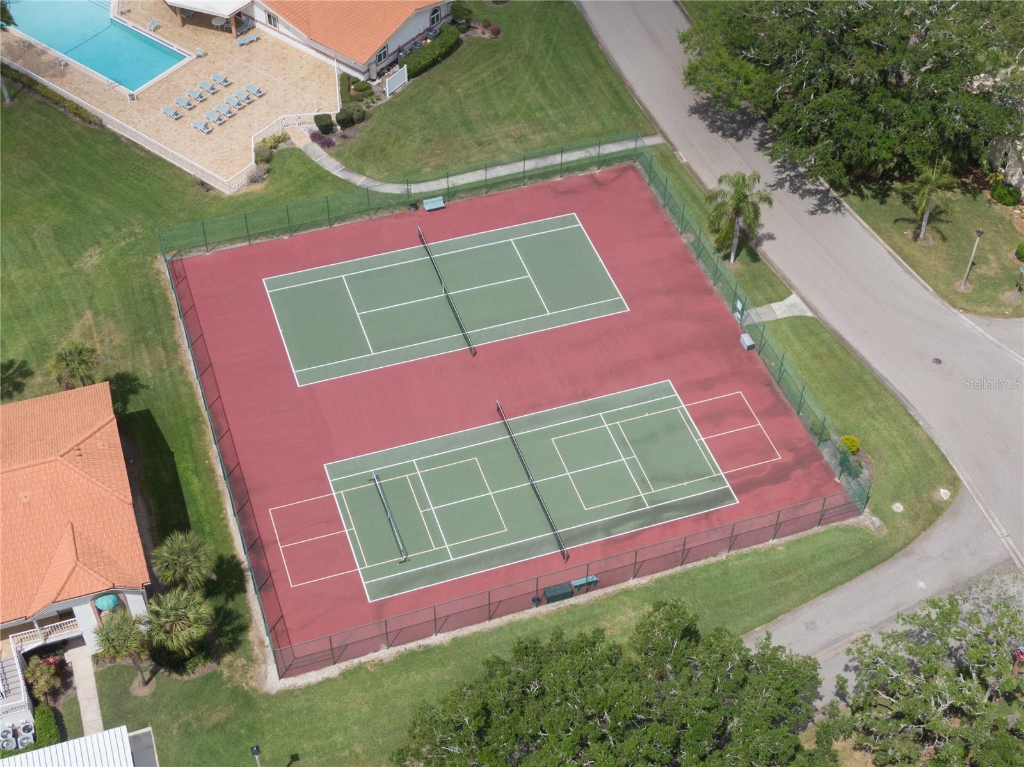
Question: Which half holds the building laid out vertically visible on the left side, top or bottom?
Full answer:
The bottom half of the photo is where the building laid out vertically visible on the left side is.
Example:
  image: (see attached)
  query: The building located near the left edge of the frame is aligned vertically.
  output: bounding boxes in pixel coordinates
[0,382,158,740]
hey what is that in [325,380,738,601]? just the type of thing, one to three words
tennis court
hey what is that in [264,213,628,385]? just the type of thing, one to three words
tennis court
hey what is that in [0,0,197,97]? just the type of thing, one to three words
swimming pool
